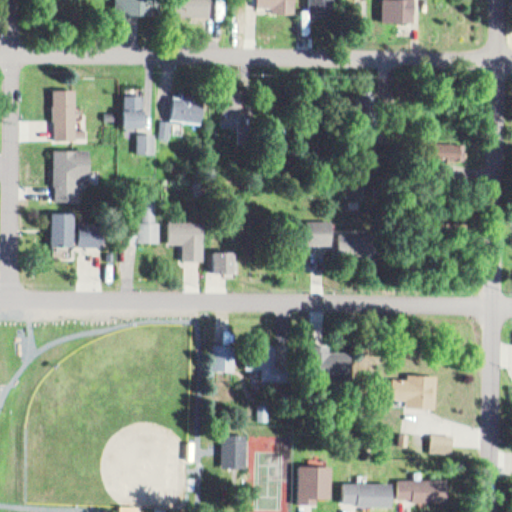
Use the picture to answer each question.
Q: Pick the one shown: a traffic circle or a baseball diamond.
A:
baseball diamond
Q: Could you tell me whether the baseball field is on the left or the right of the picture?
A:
left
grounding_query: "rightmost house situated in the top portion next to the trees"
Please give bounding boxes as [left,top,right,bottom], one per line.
[437,144,462,162]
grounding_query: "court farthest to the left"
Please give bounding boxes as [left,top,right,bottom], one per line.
[248,436,288,512]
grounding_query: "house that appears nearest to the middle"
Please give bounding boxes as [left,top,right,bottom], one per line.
[212,253,236,276]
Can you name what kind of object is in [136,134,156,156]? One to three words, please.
building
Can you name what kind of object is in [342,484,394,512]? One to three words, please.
house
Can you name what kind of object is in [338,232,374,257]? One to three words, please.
house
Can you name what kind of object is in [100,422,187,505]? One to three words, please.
baseball field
